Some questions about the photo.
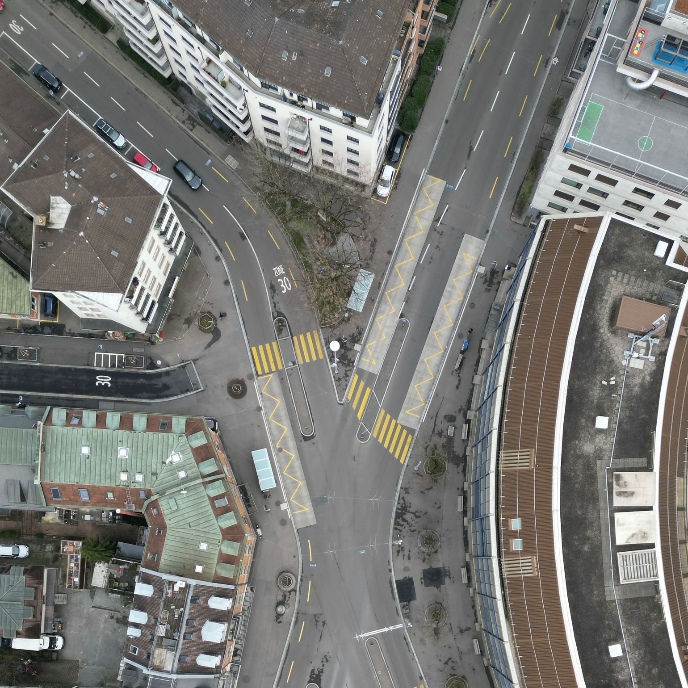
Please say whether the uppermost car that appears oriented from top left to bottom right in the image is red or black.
black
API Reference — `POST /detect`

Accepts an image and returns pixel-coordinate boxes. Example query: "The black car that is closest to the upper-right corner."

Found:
[385,130,409,166]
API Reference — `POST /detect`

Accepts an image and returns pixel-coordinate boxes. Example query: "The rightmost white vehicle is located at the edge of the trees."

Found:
[376,163,398,200]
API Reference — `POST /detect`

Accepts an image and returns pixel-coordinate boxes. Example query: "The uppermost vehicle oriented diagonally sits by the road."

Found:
[31,61,67,96]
